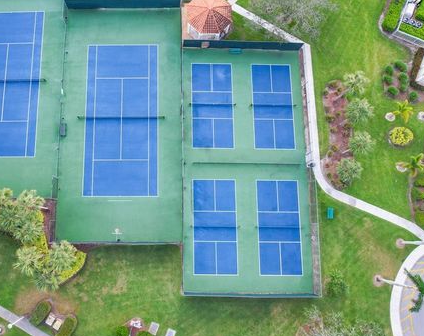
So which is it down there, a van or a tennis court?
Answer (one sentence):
There is a tennis court in the scene.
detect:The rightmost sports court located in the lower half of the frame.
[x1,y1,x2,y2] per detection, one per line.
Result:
[245,164,313,294]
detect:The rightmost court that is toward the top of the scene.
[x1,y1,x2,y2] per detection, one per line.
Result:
[243,49,306,164]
